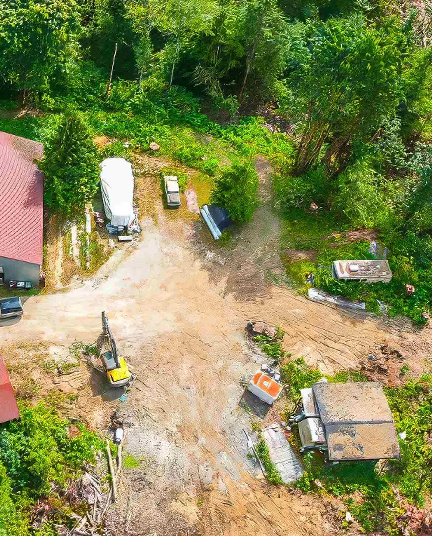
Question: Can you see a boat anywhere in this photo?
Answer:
Yes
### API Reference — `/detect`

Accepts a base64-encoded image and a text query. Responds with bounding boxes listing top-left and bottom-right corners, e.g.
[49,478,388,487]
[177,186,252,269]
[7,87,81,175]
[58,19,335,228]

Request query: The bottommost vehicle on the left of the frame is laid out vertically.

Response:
[99,309,151,414]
